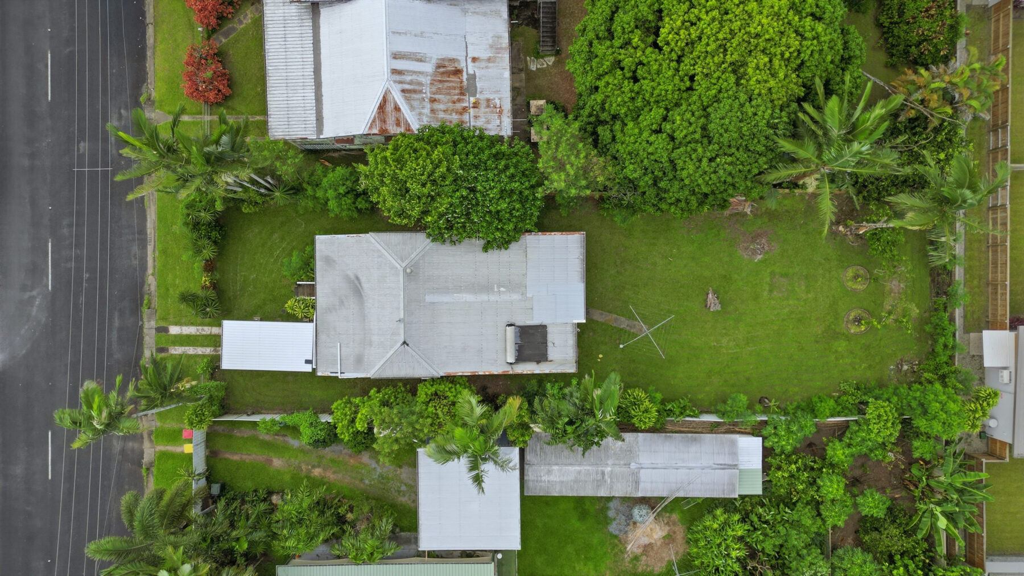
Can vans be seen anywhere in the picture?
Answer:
No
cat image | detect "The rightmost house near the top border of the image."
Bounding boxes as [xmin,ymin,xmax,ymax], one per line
[263,0,527,151]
